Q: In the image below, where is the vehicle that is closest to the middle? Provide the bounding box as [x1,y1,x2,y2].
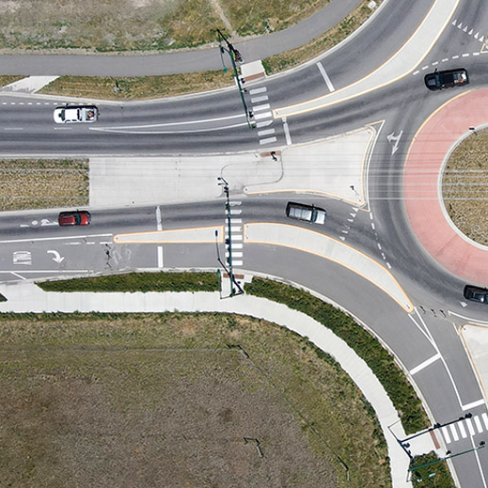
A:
[286,204,327,224]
